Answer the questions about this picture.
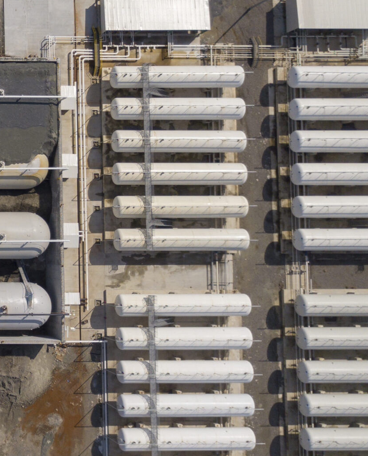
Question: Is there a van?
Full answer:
No, there appears to be no van in this shot.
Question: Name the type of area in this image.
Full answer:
The picture captures an industrial area.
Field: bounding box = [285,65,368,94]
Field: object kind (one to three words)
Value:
storage tank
